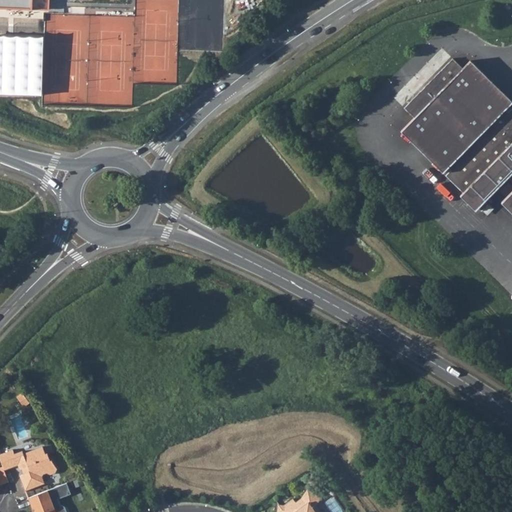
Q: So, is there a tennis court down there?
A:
Yes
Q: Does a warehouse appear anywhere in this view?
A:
Yes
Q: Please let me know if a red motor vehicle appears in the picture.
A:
Yes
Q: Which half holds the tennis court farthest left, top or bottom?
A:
top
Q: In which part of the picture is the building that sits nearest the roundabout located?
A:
top left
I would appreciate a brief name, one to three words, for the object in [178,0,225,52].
sports court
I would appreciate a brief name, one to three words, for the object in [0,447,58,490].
house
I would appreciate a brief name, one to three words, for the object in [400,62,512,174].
warehouse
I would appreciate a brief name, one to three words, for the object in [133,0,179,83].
tennis court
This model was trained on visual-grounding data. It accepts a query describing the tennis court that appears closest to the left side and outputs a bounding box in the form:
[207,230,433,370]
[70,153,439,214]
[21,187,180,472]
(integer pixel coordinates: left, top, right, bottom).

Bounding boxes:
[43,14,89,104]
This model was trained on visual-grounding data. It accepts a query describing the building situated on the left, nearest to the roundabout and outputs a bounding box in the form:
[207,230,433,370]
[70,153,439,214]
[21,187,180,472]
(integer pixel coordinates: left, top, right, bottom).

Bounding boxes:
[0,36,44,97]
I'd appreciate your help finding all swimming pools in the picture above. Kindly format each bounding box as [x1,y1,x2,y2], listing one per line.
[12,414,30,446]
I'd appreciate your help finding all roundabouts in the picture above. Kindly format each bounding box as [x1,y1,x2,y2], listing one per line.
[61,146,161,247]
